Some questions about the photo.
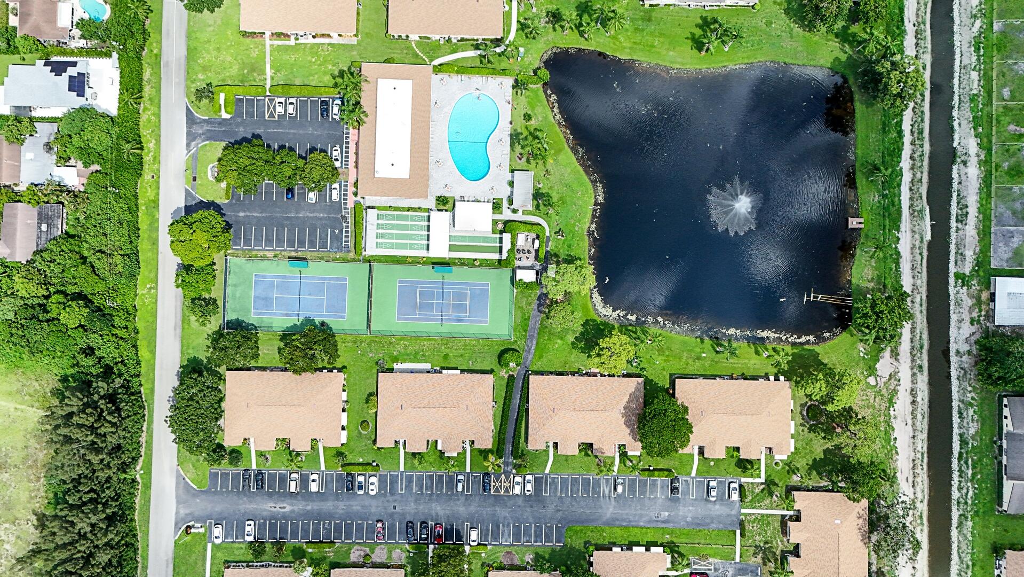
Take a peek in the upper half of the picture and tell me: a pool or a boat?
pool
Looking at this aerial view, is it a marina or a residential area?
residential area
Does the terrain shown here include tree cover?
Yes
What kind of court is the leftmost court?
tennis court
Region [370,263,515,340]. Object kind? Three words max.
tennis court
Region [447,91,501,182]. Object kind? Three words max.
swimming pool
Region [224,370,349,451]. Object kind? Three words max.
house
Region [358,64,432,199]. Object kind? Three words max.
building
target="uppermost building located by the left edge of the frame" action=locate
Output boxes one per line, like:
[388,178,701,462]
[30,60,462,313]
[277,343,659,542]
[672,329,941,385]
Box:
[19,0,77,42]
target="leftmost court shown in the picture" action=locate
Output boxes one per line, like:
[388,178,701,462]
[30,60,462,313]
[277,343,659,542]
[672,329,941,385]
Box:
[223,259,368,335]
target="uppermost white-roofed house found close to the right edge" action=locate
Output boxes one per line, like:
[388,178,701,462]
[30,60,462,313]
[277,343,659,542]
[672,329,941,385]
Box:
[987,277,1024,325]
